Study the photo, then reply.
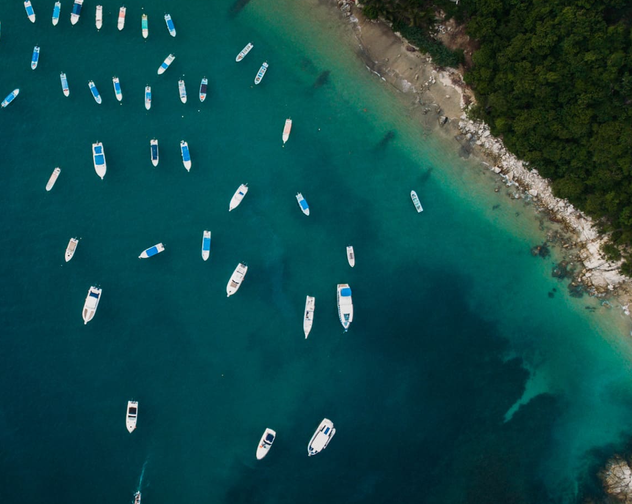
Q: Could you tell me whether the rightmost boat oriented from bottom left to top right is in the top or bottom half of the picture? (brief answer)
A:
bottom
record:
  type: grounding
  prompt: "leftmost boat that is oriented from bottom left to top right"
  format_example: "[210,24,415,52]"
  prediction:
[1,89,20,109]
